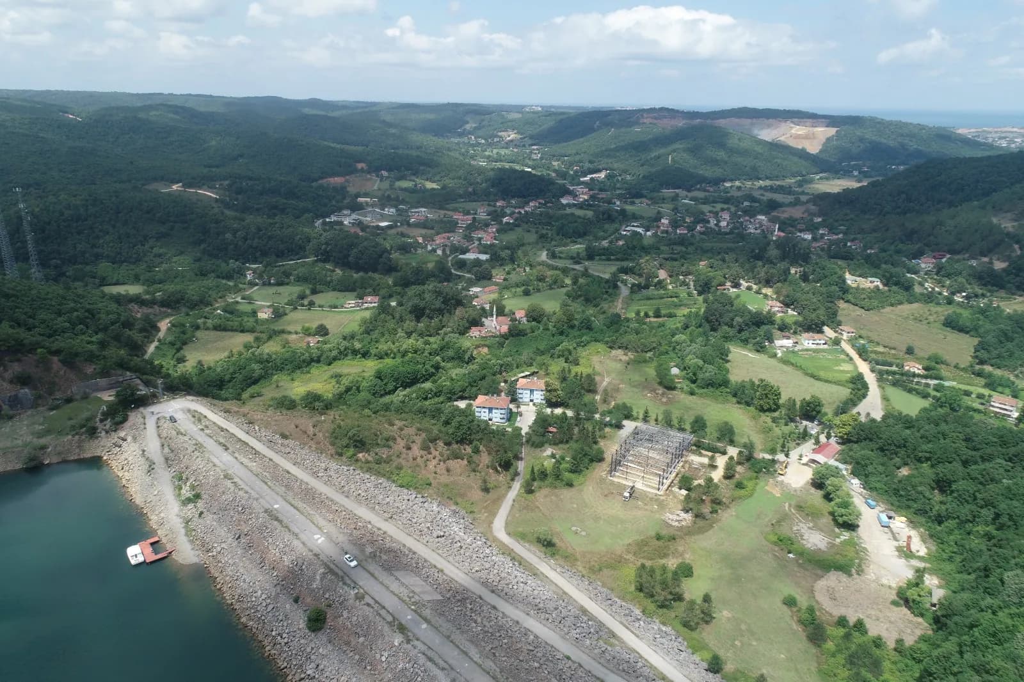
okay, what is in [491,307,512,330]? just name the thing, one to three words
building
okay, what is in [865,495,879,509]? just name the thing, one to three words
vehicle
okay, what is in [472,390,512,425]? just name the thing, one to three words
building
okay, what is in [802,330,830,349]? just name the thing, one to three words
house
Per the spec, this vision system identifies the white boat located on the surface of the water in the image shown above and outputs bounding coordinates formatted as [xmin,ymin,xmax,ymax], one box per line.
[128,543,144,566]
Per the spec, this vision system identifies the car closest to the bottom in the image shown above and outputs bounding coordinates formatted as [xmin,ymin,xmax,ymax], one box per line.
[341,552,359,568]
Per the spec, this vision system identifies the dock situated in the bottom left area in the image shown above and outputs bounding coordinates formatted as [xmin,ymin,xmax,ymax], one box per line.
[138,536,169,564]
